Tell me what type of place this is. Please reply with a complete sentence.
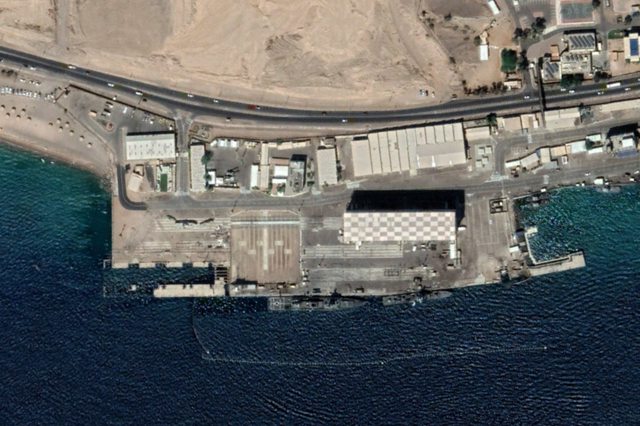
It's a port.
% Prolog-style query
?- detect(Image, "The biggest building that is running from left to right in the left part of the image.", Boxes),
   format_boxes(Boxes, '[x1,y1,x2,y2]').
[126,134,175,161]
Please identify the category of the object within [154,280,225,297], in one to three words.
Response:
pier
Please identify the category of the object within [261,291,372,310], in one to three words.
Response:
ship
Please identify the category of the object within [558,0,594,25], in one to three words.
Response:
sports court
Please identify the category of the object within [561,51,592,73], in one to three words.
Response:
building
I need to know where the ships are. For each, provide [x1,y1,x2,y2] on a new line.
[382,285,452,306]
[261,291,372,310]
